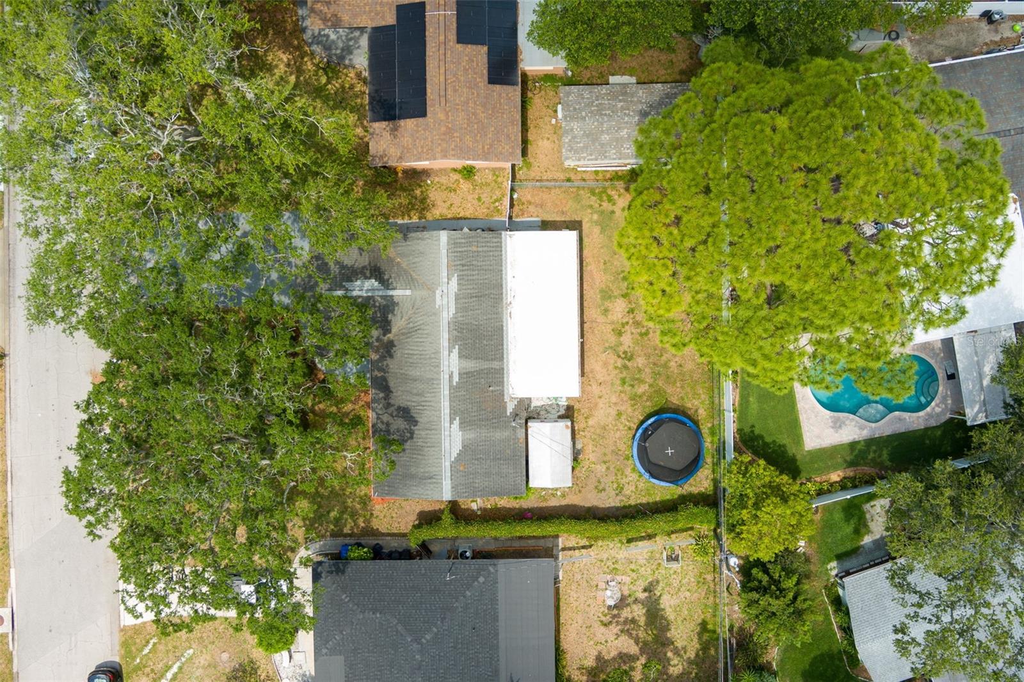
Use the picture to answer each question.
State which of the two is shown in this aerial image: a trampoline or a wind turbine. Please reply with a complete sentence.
There is a trampoline in the scene.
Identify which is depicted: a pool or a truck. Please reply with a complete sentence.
I can see a pool in this picture.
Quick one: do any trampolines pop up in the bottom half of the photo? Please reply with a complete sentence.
Yes, you'll find a trampoline in the bottom half of the photo.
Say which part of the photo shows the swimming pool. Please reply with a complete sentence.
The swimming pool sits in the right section of the image.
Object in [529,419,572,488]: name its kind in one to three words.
shed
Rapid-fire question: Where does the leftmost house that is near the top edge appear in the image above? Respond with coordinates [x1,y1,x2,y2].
[305,0,567,167]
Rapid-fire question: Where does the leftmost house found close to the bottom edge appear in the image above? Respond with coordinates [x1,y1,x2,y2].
[311,556,556,682]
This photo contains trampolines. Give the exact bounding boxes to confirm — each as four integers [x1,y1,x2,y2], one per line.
[628,410,710,490]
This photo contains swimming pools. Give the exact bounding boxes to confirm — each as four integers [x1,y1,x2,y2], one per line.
[792,339,963,450]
